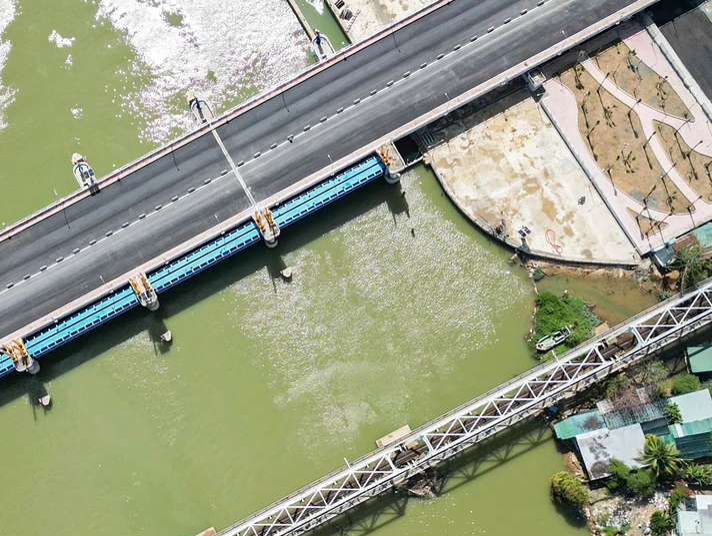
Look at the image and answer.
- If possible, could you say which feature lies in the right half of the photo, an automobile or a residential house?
residential house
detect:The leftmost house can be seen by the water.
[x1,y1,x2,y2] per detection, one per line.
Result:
[554,409,607,440]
